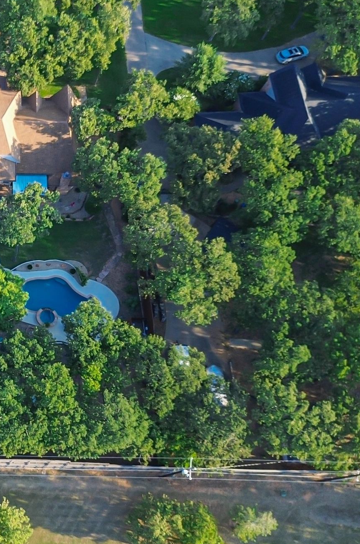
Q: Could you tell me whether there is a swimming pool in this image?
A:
Yes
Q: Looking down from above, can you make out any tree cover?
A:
Yes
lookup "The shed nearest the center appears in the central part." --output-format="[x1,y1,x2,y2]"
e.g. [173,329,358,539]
[198,217,230,250]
